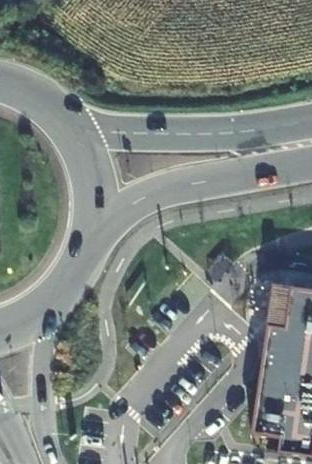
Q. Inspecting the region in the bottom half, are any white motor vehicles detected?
Yes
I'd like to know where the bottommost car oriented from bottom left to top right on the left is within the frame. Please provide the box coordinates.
[107,401,128,419]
